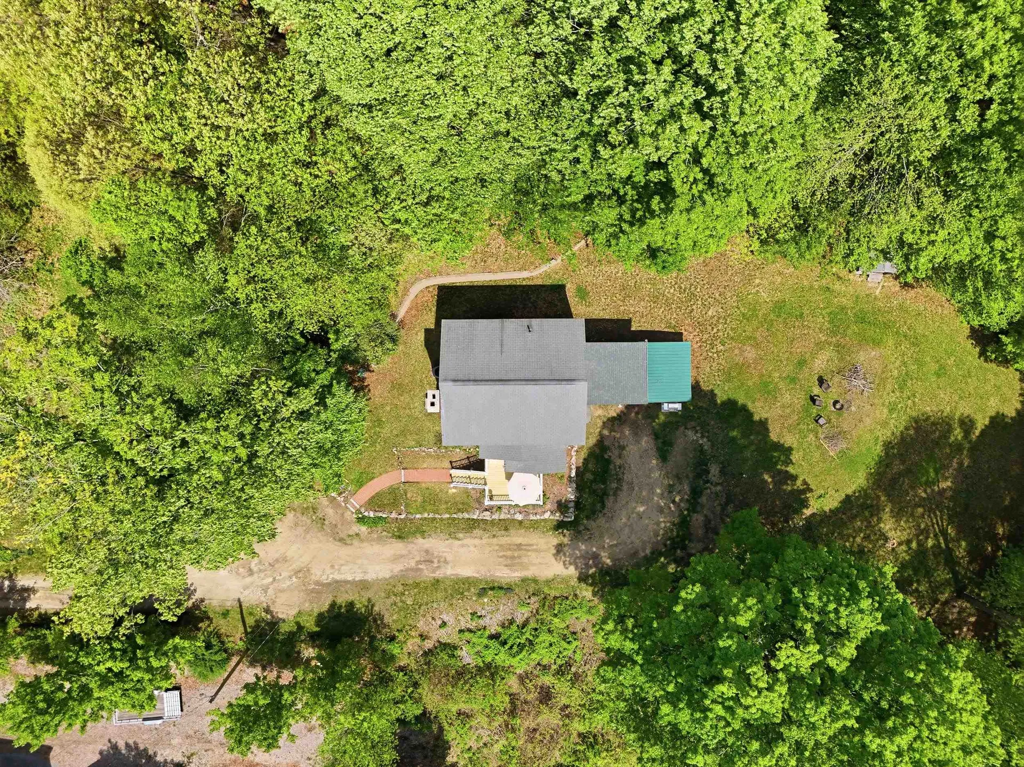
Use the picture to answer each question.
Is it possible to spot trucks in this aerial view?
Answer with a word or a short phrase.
No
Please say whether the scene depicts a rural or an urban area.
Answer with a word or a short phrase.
rural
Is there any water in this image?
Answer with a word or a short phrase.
No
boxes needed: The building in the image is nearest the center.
[425,318,588,447]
